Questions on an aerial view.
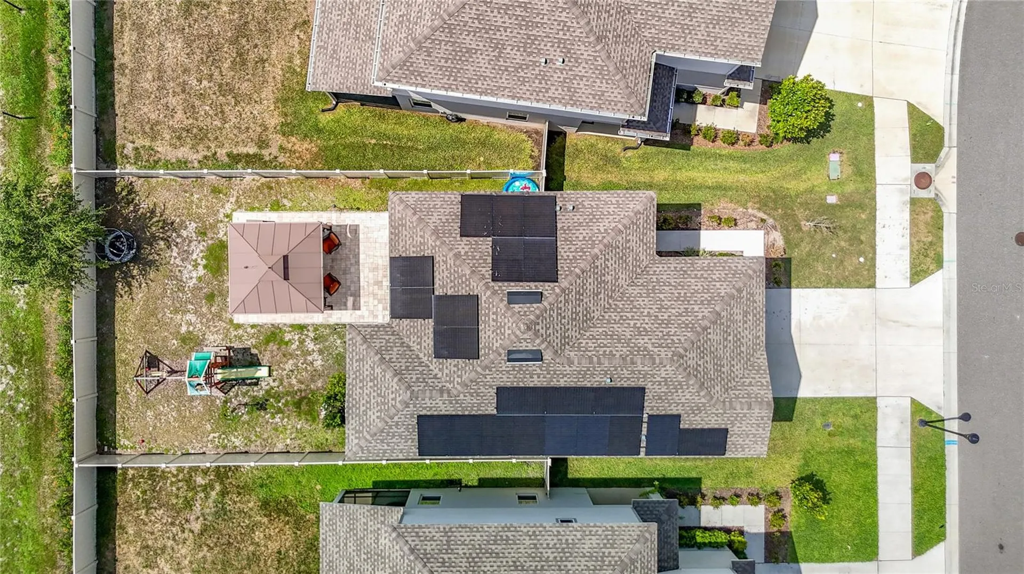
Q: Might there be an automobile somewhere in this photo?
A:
No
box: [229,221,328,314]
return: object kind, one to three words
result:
gazebo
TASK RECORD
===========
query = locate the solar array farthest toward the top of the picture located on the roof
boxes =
[459,195,559,282]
